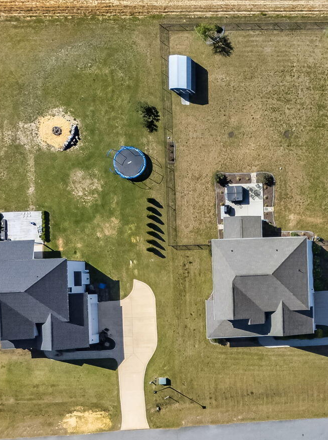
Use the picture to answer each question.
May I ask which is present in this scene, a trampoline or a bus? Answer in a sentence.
This aerial view contains a trampoline.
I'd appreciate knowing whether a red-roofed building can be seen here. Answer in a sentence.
No, no red-roofed building is visible in the scene.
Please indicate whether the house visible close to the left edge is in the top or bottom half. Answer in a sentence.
Seen from above, the house visible close to the left edge lies in the bottom half of the view.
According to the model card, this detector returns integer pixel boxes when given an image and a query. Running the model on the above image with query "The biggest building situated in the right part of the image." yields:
[206,215,317,339]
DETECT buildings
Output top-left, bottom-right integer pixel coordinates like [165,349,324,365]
[0,240,98,352]
[206,215,317,339]
[170,54,197,105]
